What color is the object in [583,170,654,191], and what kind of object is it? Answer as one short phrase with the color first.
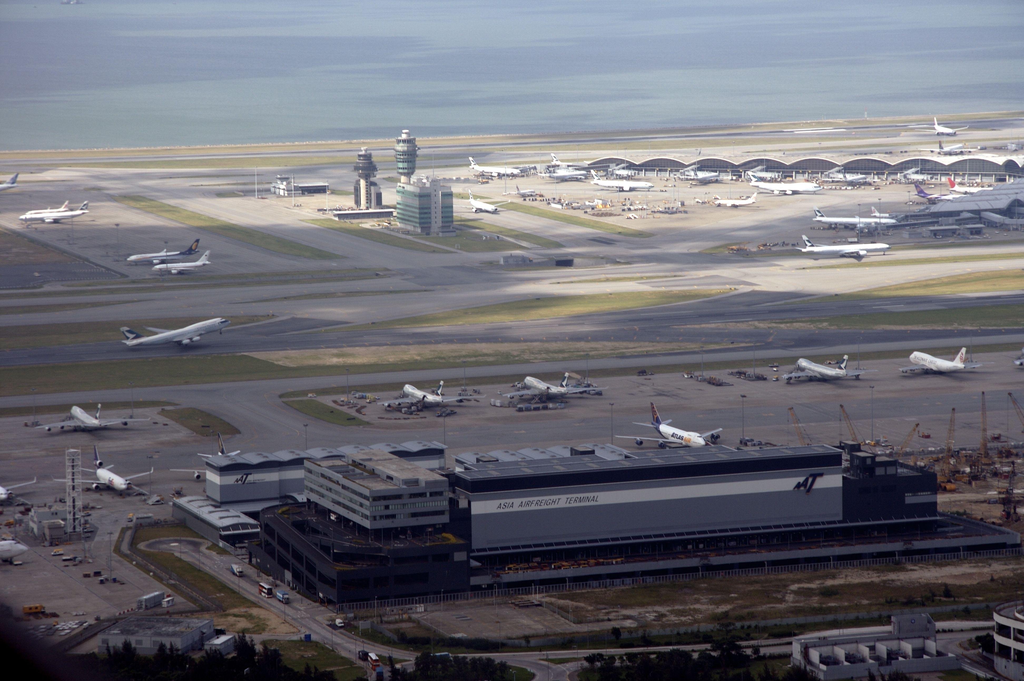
white airplane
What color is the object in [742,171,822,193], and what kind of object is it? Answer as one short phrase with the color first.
white airplane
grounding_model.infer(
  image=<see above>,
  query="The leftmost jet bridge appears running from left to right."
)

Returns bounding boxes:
[514,165,546,178]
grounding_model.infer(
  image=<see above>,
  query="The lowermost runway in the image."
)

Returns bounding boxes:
[0,230,1024,366]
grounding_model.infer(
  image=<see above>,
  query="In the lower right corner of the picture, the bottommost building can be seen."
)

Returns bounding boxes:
[771,596,957,679]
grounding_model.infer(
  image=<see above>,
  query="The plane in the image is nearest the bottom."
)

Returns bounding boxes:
[124,318,237,351]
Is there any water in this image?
Yes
